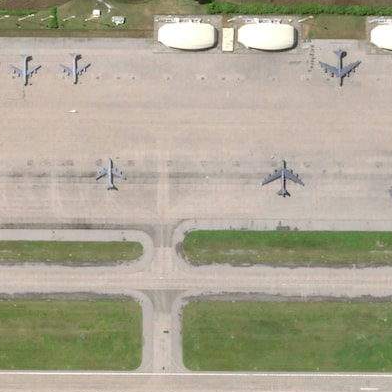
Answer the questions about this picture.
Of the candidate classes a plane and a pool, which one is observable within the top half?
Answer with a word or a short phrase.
plane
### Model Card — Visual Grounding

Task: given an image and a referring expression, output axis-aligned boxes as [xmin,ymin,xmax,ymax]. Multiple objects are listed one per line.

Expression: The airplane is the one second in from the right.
[265,160,306,196]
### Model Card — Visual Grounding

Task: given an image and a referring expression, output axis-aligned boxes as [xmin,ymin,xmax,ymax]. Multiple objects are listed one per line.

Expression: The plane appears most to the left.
[12,54,42,85]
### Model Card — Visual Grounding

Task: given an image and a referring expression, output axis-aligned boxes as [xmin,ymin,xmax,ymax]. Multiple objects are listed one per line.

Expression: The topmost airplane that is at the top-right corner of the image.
[322,48,363,85]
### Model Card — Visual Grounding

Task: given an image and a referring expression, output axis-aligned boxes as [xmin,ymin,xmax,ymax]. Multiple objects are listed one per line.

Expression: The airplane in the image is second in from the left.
[61,53,92,84]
